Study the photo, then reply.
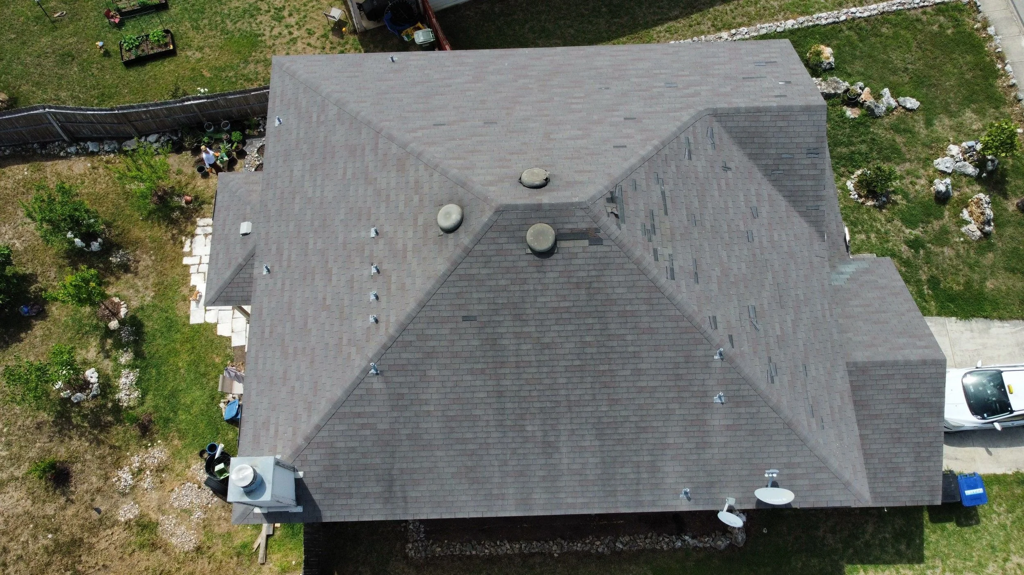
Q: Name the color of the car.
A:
white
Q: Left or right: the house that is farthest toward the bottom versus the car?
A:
to the left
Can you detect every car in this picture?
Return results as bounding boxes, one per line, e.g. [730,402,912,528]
[944,359,1024,431]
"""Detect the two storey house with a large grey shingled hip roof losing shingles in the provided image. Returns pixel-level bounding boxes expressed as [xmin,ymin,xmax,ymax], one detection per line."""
[204,40,947,525]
